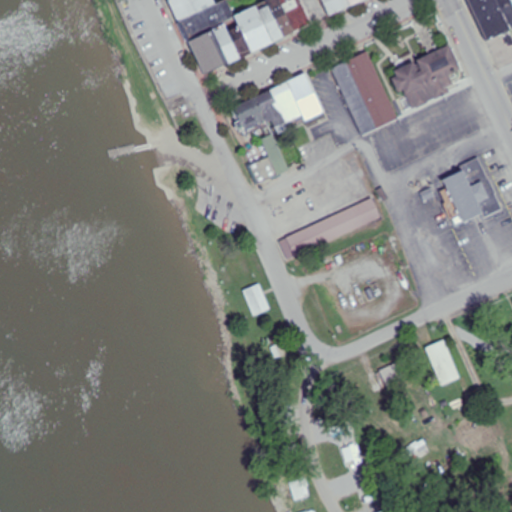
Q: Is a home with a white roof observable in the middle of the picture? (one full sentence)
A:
Yes, a home with a white roof shows up in the middle of the picture.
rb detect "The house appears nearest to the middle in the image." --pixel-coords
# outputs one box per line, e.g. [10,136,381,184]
[242,283,270,316]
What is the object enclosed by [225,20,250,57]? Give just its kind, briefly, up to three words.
building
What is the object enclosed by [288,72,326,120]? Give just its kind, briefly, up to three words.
house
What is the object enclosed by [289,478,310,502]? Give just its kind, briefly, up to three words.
house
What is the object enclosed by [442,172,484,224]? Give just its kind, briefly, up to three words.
building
